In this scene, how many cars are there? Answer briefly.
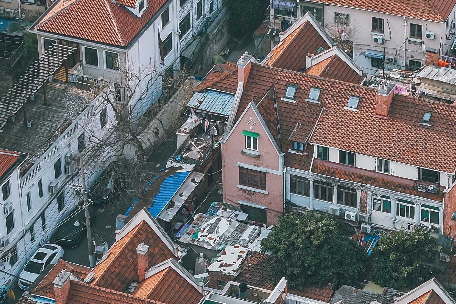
3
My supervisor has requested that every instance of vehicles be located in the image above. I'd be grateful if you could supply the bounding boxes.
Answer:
[0,279,12,300]
[83,169,130,211]
[52,209,99,254]
[17,244,68,292]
